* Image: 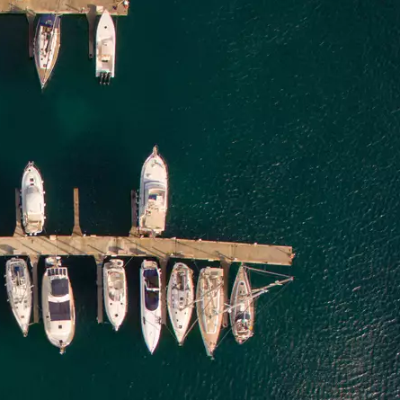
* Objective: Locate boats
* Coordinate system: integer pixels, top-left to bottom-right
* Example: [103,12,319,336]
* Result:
[94,0,116,83]
[19,160,46,244]
[137,261,163,354]
[195,255,269,357]
[39,256,76,355]
[42,255,65,266]
[108,259,126,268]
[32,0,63,89]
[136,143,169,247]
[101,256,128,331]
[5,251,35,339]
[166,256,223,346]
[228,256,293,344]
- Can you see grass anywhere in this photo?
No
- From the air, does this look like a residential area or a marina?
marina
